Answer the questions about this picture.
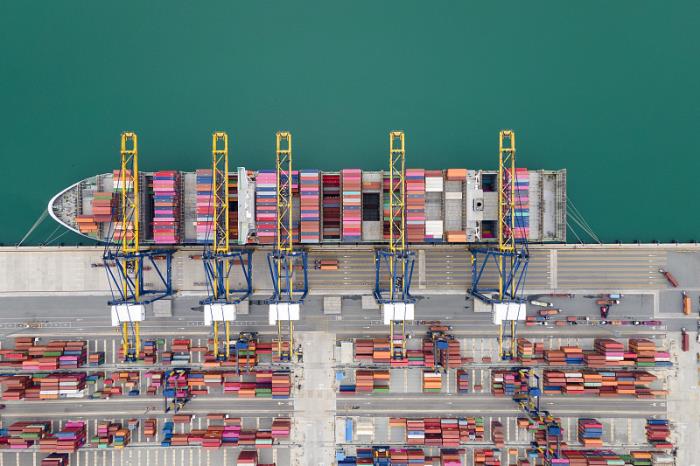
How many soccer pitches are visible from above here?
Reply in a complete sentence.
Not a single soccer pitch can be seen.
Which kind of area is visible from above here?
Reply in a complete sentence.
It's a port.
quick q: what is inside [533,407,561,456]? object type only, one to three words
container crane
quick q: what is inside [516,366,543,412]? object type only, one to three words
container crane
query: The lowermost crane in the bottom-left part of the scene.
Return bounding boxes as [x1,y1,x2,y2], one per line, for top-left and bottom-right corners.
[163,366,189,414]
